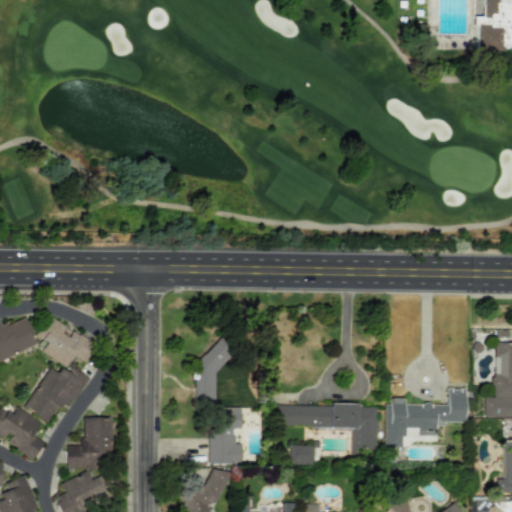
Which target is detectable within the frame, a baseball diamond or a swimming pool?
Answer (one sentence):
It is a swimming pool that can be seen here.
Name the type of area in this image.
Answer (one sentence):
The picture captures a golf course.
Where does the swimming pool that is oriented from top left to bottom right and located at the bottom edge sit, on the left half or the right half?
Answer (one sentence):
You can find the swimming pool that is oriented from top left to bottom right and located at the bottom edge on the right side of the picture.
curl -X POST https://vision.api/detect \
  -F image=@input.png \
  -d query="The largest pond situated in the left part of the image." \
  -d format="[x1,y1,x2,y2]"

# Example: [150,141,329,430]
[40,80,246,180]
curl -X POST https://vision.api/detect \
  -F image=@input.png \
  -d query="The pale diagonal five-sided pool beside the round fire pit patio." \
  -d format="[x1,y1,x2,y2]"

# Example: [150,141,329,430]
[422,483,447,502]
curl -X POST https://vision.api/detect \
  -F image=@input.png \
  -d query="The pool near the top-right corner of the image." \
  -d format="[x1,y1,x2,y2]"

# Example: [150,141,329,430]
[439,0,467,35]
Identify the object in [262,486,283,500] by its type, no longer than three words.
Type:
swimming pool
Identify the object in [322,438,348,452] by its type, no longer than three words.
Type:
swimming pool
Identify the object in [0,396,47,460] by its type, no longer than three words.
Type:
house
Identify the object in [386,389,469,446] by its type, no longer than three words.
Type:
house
